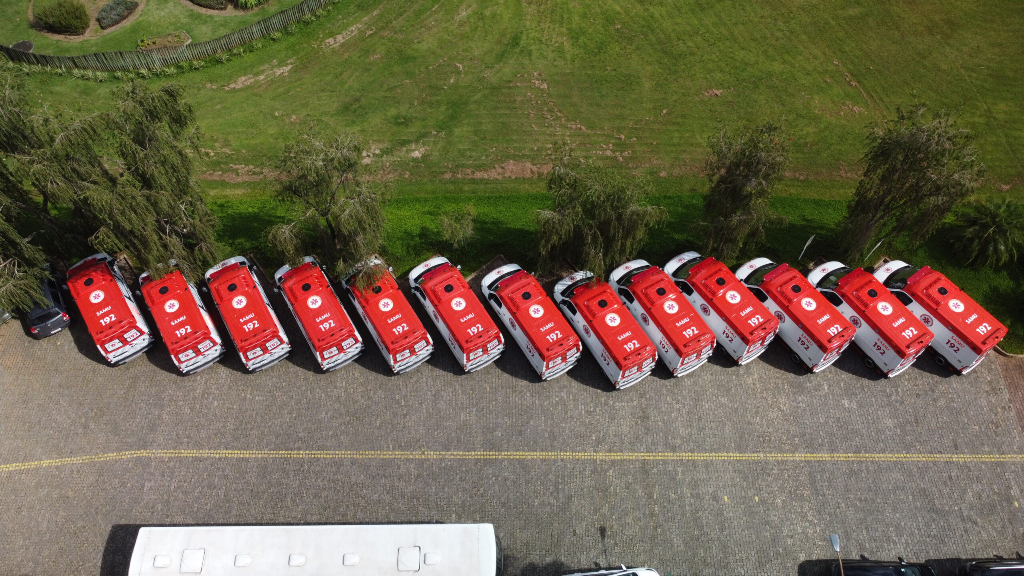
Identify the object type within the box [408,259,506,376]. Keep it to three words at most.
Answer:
van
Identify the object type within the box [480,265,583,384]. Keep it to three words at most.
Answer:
van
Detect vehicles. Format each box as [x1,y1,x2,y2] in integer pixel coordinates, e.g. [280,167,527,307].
[604,261,715,380]
[204,256,296,374]
[408,259,506,376]
[808,553,932,576]
[3,267,71,340]
[938,562,1024,576]
[549,272,657,392]
[800,263,933,380]
[124,526,505,576]
[866,262,1006,377]
[567,560,663,576]
[273,256,367,373]
[138,261,232,378]
[480,265,583,384]
[731,260,857,376]
[659,253,779,368]
[65,254,161,368]
[340,259,436,376]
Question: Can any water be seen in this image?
No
